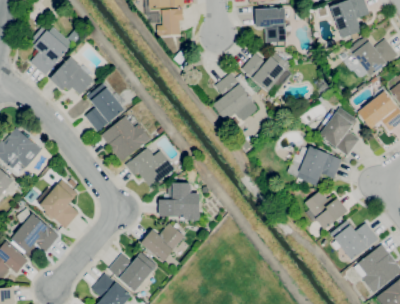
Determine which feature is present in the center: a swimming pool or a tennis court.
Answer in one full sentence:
Looking in the center, you will find a swimming pool.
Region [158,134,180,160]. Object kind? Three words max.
swimming pool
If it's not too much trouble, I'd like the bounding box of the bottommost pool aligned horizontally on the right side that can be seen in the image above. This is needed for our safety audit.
[280,85,308,98]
